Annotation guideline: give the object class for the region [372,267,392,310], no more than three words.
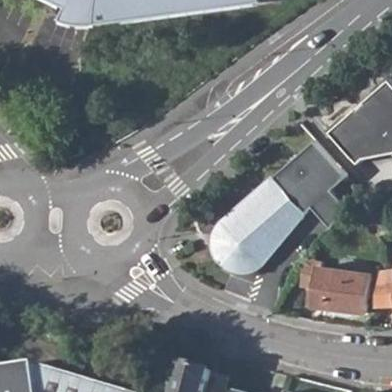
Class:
house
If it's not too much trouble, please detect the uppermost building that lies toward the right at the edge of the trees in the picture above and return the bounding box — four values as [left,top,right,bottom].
[327,82,392,164]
